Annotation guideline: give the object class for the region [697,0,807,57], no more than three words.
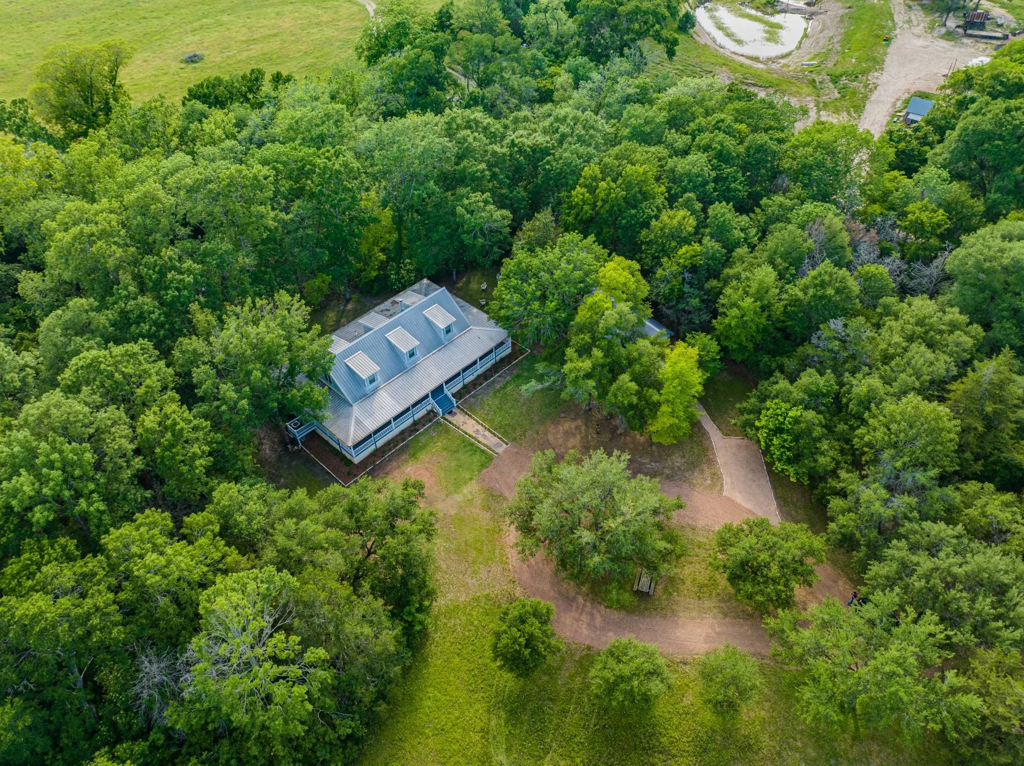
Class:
pond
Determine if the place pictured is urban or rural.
rural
